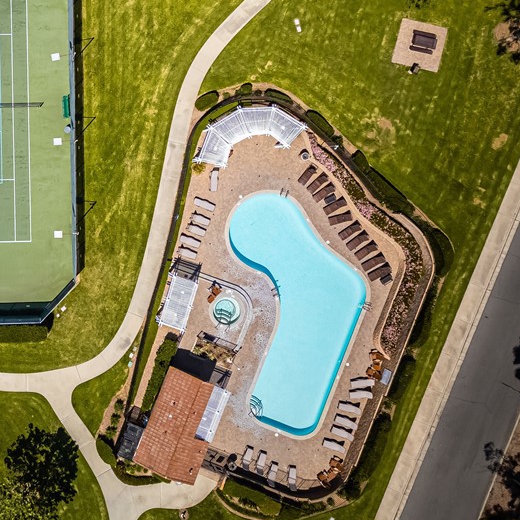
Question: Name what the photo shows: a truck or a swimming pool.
swimming pool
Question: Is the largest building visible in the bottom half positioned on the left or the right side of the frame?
left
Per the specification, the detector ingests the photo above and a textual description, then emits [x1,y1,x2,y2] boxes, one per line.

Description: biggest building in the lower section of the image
[130,364,214,485]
